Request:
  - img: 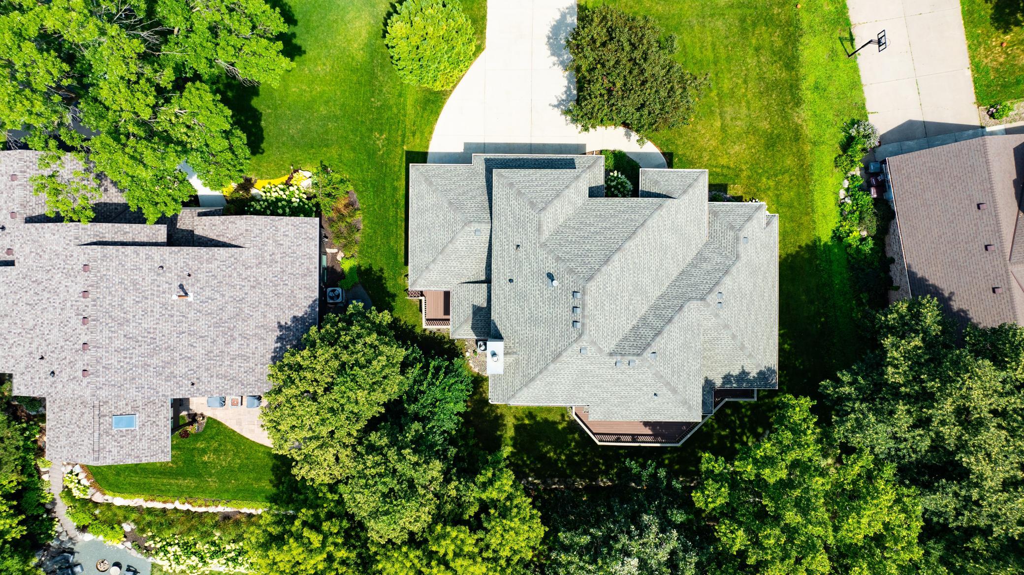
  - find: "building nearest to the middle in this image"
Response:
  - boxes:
[408,154,780,423]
